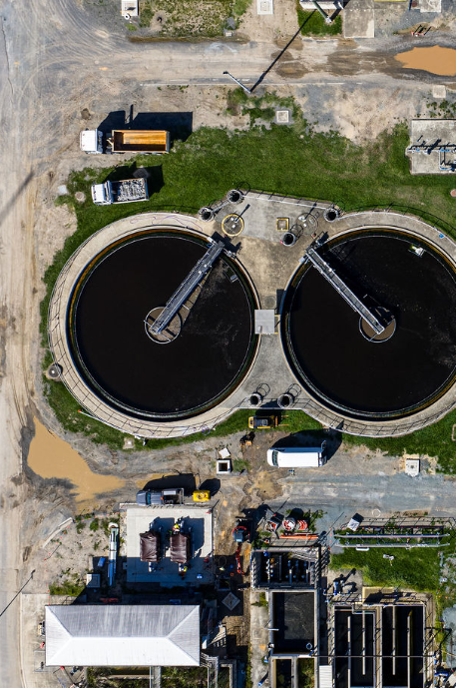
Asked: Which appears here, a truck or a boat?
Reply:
truck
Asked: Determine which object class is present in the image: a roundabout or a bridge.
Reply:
bridge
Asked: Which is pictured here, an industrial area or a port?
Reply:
industrial area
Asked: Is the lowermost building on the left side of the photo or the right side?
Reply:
left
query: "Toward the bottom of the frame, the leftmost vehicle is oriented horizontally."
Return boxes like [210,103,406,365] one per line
[134,486,189,508]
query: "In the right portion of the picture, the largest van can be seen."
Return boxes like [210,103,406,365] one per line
[269,440,330,469]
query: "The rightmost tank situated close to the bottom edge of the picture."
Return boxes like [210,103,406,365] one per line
[330,606,428,688]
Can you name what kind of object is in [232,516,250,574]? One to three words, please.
work vehicle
